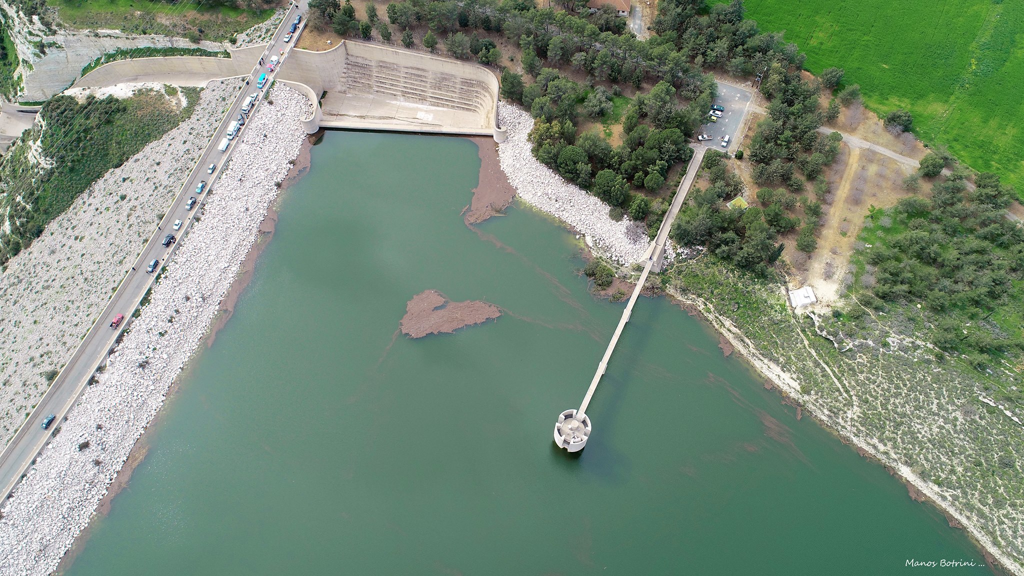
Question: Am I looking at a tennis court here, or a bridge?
bridge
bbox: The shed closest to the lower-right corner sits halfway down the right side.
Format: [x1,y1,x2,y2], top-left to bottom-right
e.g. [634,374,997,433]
[787,287,816,312]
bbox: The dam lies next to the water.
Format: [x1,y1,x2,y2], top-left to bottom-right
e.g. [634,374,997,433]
[0,1,326,576]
